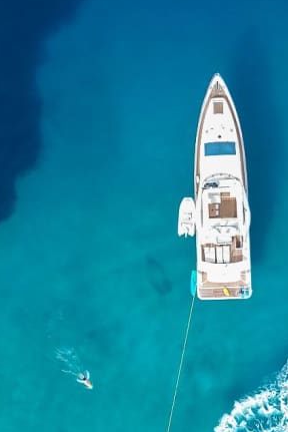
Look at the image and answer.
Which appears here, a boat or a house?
boat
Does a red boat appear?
No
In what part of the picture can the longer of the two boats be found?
right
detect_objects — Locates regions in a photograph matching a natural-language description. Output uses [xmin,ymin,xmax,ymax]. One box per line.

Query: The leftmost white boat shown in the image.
[179,198,194,237]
